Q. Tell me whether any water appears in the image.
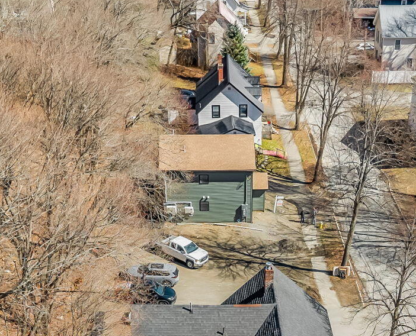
No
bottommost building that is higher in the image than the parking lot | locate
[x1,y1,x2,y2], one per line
[159,131,268,222]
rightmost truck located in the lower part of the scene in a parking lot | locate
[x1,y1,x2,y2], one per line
[154,228,211,269]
